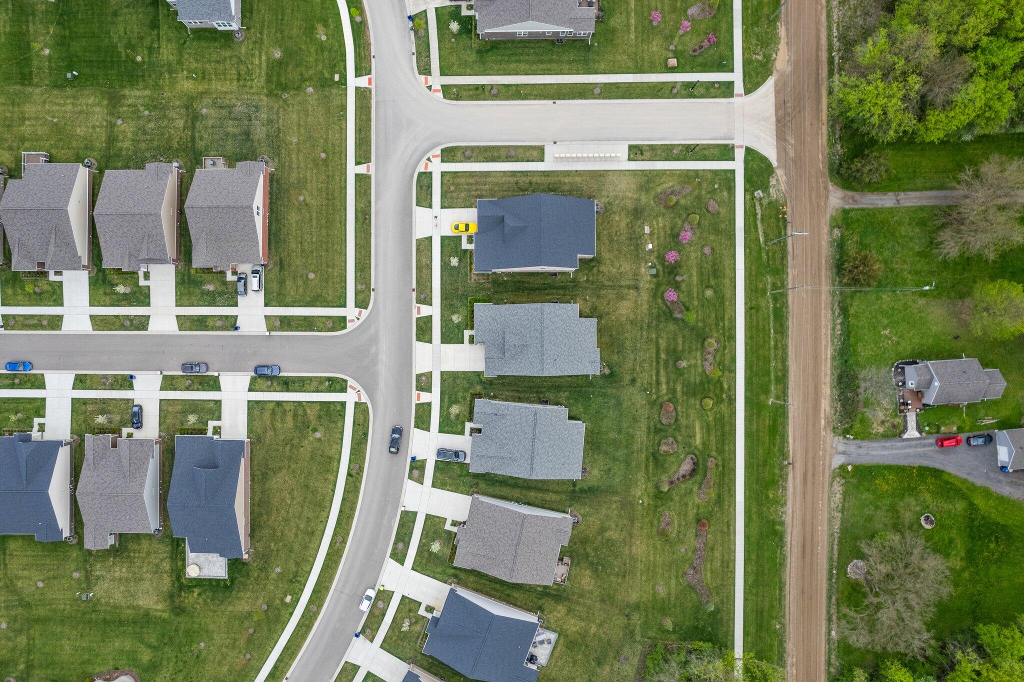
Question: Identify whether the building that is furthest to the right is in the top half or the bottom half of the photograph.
bottom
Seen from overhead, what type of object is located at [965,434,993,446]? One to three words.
vehicle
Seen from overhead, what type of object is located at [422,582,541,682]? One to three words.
house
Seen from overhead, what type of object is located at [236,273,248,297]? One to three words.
vehicle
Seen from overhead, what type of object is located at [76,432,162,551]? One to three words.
house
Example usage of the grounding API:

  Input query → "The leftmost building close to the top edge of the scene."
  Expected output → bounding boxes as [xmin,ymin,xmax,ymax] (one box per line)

[165,0,246,34]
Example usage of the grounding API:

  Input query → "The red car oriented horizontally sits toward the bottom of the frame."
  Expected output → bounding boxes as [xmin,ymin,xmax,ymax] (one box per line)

[935,435,962,447]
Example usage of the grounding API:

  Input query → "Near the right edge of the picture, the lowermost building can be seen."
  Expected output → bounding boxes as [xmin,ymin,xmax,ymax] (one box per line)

[996,426,1024,467]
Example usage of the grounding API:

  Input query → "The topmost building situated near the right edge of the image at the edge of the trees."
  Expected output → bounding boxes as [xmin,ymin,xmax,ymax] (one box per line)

[899,354,1007,417]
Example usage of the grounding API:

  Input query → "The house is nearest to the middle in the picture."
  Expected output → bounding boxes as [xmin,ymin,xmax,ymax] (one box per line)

[473,300,601,379]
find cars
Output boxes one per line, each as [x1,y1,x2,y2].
[236,273,248,297]
[254,365,281,377]
[250,265,263,292]
[359,587,377,613]
[451,223,474,233]
[181,362,208,374]
[935,435,962,447]
[389,426,402,454]
[5,361,34,371]
[131,404,144,429]
[436,449,466,462]
[965,434,993,446]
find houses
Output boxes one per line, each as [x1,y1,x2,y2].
[899,354,1007,417]
[185,160,274,272]
[165,0,246,34]
[1,163,95,272]
[473,194,596,277]
[422,582,541,682]
[0,430,74,543]
[165,433,251,560]
[473,0,597,45]
[469,397,585,482]
[395,661,445,682]
[93,162,185,272]
[473,300,601,379]
[451,492,574,588]
[76,432,162,551]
